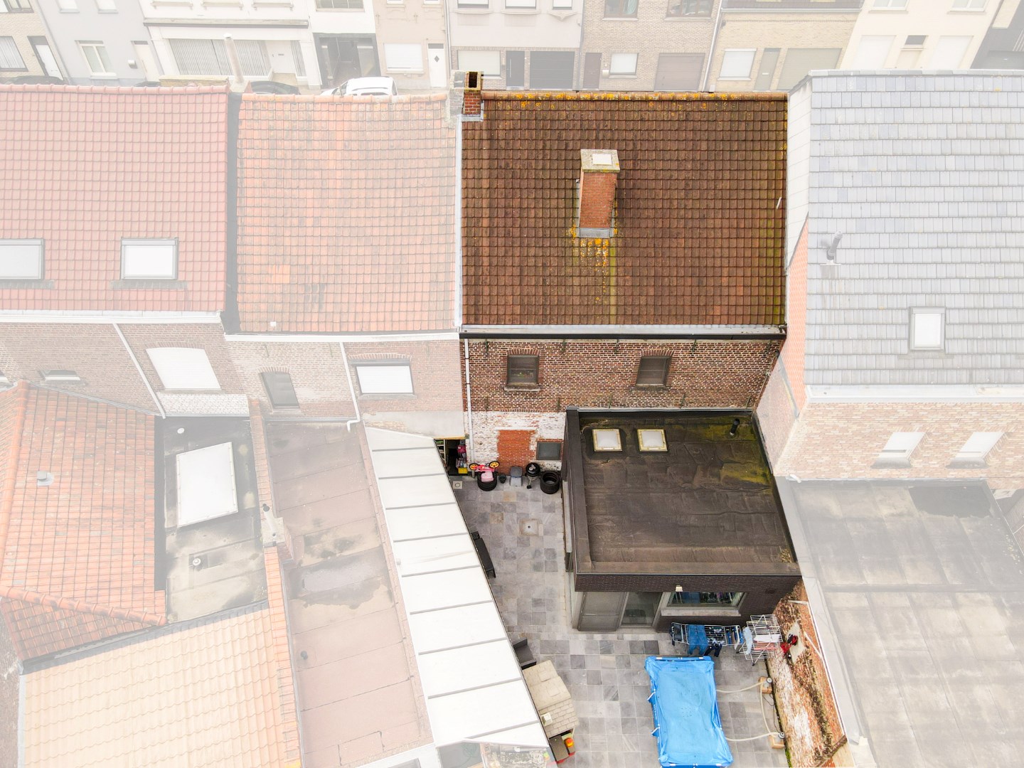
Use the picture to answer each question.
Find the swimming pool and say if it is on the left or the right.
right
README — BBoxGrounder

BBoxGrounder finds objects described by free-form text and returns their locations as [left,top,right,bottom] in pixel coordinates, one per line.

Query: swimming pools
[637,655,735,768]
